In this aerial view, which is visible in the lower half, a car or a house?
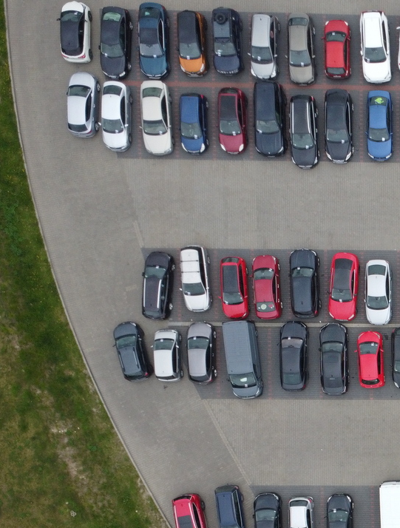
car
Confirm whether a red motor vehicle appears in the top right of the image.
Yes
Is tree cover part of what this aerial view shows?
No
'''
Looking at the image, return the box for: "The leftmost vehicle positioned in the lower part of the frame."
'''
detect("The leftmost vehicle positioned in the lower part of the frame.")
[108,320,150,382]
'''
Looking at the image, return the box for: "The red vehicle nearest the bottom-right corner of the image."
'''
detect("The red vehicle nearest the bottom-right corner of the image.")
[354,332,386,389]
